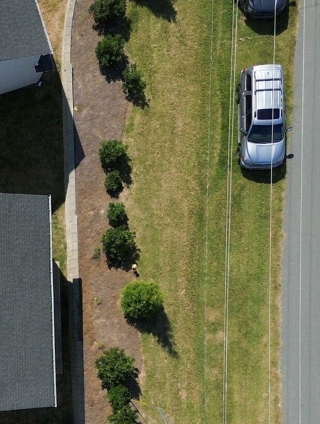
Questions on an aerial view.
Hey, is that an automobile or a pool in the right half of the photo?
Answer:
automobile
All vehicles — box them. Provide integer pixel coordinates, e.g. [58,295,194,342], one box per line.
[238,0,287,22]
[233,63,289,172]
